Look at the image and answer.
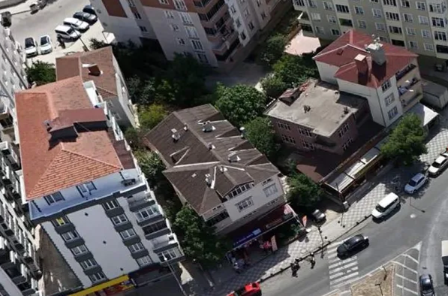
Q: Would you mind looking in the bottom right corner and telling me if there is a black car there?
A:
Yes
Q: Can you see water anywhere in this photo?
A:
No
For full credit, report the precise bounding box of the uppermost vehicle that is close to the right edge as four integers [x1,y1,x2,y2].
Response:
[427,154,448,177]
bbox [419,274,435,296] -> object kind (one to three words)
car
